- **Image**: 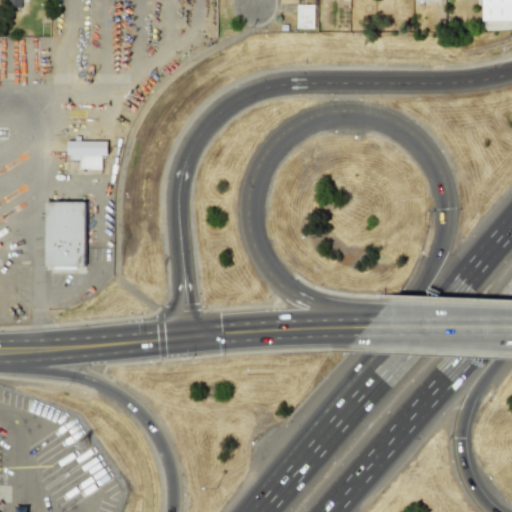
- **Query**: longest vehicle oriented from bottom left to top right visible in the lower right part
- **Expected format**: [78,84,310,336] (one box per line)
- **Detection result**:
[449,376,465,394]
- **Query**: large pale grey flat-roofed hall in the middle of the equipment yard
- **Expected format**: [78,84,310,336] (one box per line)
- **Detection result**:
[46,203,86,270]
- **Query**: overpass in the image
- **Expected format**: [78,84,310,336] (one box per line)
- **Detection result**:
[336,296,512,358]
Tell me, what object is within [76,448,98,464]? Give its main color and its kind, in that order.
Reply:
white vehicle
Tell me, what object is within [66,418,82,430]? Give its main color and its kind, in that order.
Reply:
white vehicle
